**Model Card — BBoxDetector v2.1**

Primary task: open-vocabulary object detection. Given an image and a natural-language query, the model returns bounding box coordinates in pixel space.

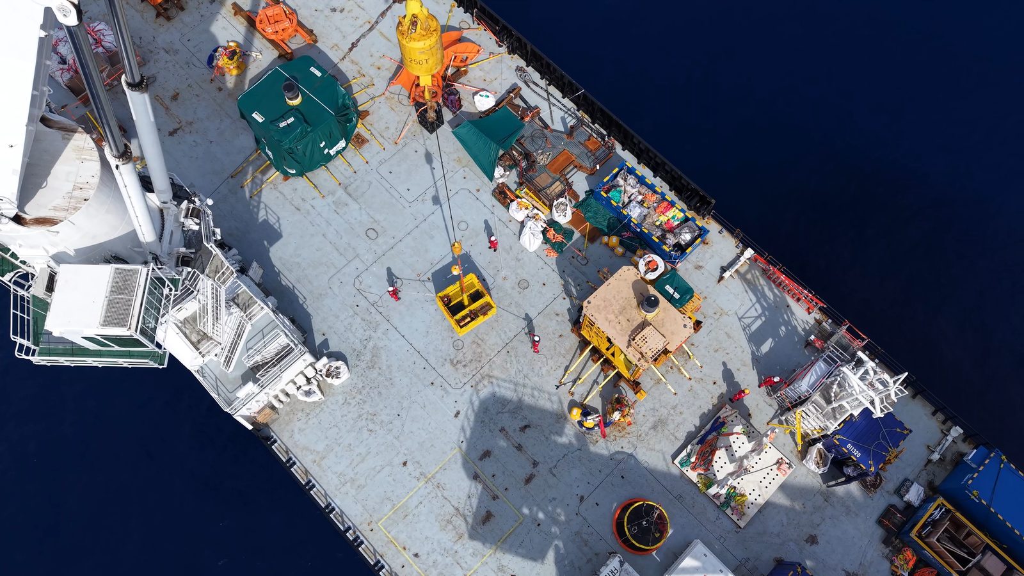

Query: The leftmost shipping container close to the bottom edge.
[659,540,733,576]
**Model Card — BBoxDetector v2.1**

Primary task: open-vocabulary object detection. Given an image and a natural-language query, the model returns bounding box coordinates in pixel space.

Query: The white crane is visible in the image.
[0,0,199,370]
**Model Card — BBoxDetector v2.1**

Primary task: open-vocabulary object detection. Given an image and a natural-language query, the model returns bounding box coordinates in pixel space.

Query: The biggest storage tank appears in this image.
[612,494,674,559]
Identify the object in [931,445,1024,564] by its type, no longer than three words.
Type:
shipping container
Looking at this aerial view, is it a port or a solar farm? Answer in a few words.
port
